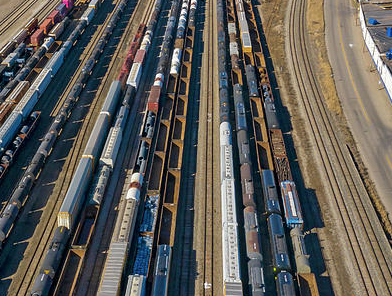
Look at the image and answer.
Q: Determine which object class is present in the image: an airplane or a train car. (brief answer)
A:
train car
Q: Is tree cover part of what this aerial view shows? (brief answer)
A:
No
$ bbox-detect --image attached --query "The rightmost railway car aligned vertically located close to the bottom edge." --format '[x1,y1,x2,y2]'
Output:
[290,228,316,285]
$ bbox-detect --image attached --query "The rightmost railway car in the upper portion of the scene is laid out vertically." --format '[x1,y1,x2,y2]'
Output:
[264,99,280,134]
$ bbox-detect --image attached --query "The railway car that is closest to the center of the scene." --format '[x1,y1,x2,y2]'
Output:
[219,123,231,148]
